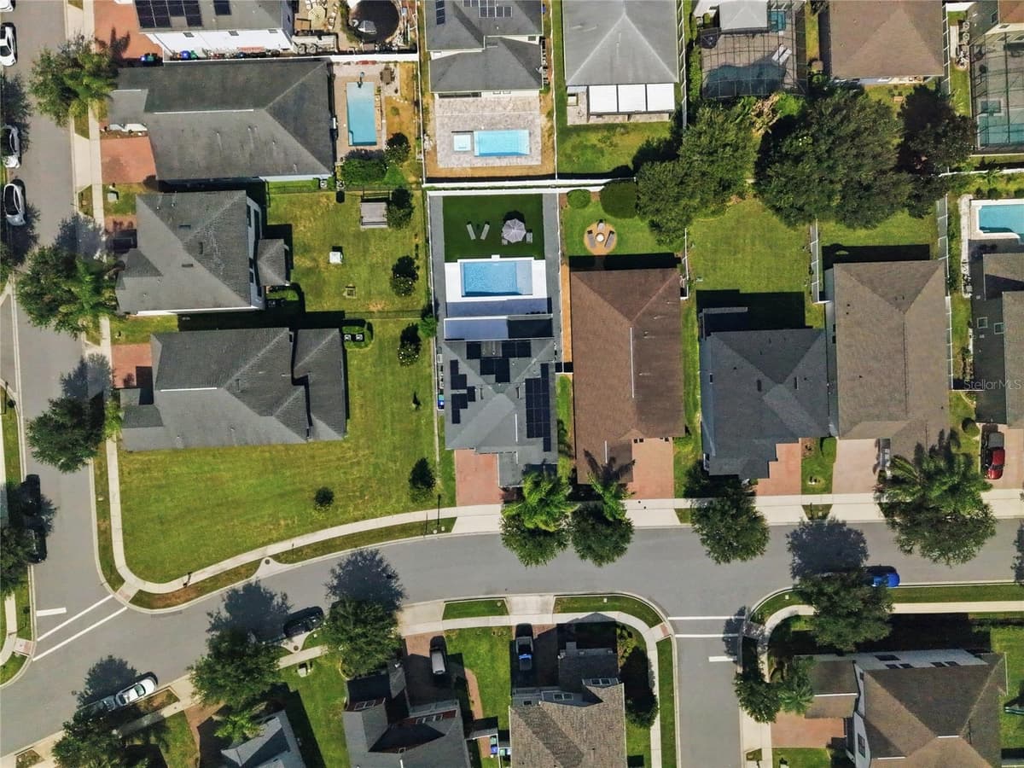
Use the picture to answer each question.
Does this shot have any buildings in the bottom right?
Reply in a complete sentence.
Yes, you'll find a building in the bottom right.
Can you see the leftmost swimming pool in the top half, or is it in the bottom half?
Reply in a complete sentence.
The leftmost swimming pool sits in the top half of the picture.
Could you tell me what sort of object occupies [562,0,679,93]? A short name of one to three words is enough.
house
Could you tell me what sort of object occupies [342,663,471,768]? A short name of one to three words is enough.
house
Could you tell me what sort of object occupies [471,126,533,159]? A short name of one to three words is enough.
swimming pool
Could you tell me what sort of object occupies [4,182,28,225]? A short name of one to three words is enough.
car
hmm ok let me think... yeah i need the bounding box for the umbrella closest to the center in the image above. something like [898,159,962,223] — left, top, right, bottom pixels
[502,219,526,243]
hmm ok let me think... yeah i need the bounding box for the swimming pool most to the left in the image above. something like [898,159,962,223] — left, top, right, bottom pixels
[343,78,379,149]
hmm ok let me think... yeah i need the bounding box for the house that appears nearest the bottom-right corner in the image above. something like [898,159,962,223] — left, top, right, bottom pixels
[797,649,1005,768]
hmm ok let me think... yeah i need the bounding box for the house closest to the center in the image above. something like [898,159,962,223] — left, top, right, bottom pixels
[442,312,558,487]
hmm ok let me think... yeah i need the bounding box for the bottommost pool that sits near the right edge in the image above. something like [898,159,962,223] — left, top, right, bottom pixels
[975,199,1024,239]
